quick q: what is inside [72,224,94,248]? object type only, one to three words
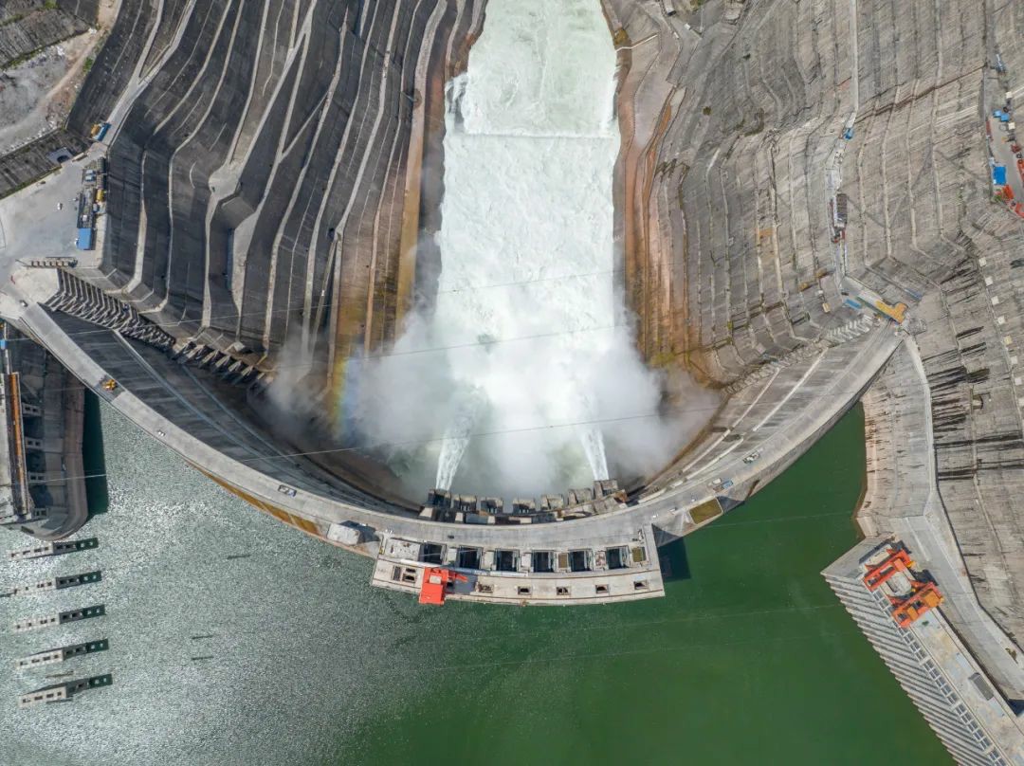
shed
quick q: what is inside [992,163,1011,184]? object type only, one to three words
shed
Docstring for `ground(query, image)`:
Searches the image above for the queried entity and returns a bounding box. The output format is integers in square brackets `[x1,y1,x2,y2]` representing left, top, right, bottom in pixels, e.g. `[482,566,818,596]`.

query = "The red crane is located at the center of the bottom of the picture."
[421,566,466,605]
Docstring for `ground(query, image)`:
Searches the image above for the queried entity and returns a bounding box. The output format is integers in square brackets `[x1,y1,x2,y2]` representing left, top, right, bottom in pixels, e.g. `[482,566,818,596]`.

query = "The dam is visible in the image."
[0,278,914,606]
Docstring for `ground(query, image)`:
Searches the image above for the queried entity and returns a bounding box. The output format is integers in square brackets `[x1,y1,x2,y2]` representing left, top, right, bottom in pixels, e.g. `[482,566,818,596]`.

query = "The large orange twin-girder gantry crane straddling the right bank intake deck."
[850,547,948,628]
